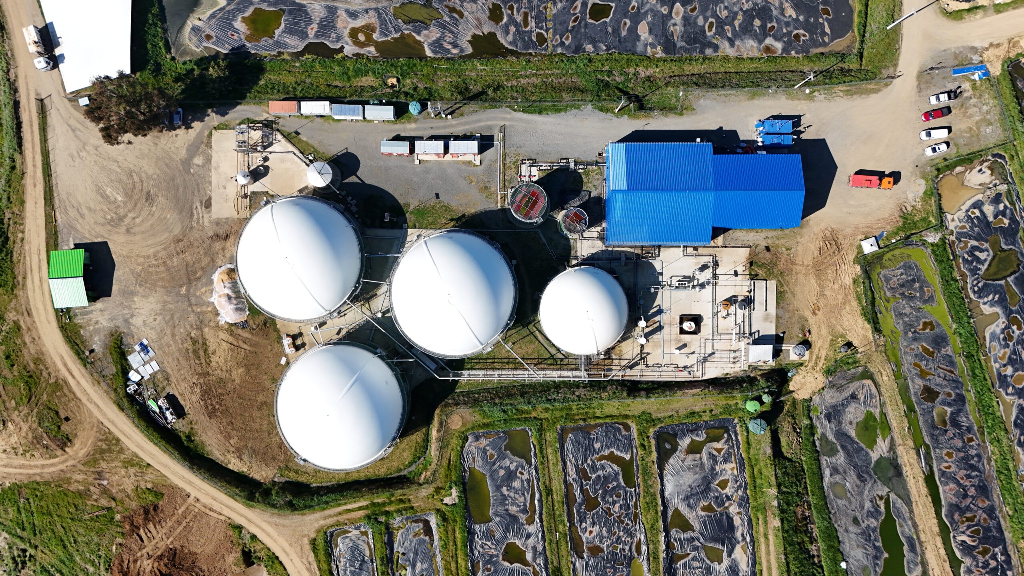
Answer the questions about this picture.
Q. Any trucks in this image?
Yes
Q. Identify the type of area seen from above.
industrial area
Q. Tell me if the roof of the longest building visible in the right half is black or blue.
blue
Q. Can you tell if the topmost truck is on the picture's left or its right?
left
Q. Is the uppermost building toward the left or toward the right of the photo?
left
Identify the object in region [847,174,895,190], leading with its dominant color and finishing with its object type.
red vehicle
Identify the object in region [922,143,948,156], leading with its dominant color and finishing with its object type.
white vehicle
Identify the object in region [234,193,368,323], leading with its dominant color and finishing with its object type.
white storage tank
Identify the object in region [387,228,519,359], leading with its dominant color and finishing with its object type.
white storage tank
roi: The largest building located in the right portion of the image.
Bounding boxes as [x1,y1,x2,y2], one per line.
[606,142,804,244]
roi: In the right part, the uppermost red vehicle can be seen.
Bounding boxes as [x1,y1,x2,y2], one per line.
[920,108,949,123]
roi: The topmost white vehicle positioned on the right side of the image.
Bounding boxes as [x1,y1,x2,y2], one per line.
[926,91,955,105]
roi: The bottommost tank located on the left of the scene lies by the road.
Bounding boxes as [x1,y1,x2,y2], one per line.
[273,342,407,474]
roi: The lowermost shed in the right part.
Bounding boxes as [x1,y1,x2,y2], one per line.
[746,345,773,362]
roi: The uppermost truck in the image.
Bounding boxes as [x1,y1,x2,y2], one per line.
[23,22,57,71]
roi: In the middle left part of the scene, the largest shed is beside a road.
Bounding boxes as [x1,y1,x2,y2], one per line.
[49,249,94,308]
